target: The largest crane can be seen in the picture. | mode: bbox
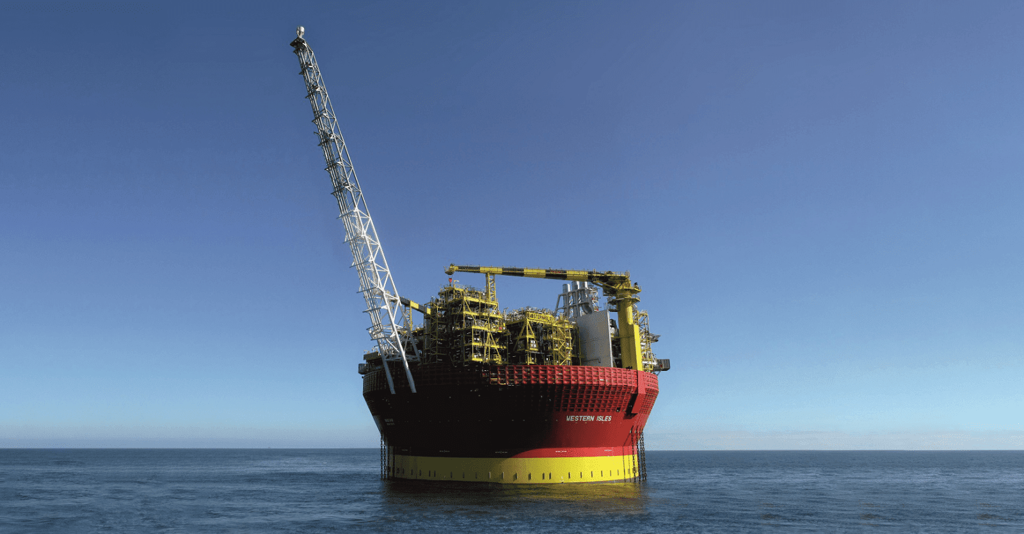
[444,261,644,375]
